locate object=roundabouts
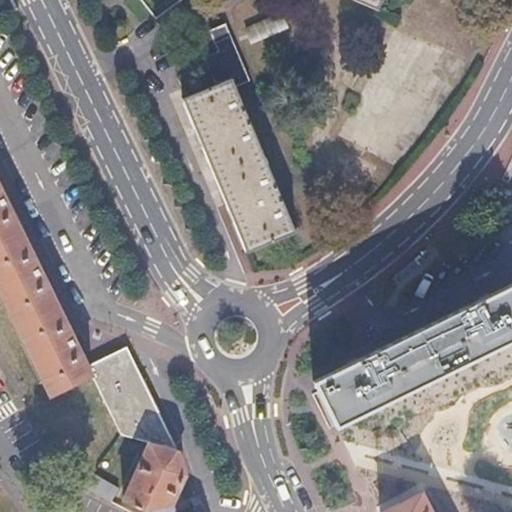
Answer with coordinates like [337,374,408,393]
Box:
[185,286,287,388]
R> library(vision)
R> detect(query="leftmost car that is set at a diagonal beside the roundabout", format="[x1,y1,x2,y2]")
[172,286,191,308]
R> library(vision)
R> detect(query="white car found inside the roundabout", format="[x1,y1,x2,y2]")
[198,336,215,358]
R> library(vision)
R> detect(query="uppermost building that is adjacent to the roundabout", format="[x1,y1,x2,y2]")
[184,80,295,252]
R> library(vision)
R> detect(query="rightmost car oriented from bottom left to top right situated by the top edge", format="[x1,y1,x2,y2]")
[134,20,156,40]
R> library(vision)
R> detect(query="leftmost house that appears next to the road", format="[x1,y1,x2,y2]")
[0,182,96,400]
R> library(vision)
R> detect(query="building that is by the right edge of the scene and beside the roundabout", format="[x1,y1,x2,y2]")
[314,282,512,430]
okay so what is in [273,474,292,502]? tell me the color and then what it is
white vehicle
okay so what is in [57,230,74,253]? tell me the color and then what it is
white car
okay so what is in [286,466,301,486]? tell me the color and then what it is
white car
